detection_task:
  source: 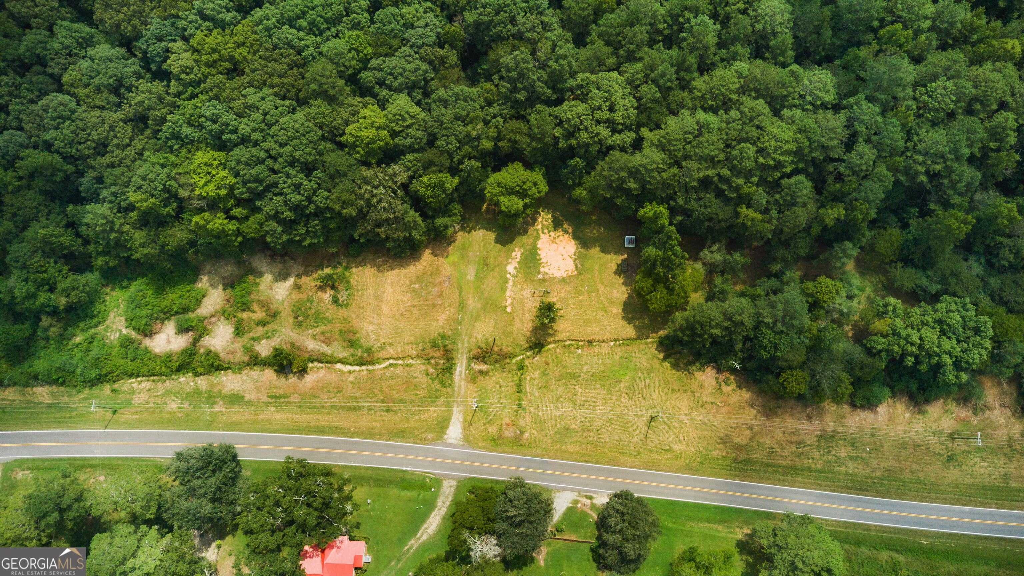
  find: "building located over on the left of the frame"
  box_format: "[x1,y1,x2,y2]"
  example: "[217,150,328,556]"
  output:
[298,531,373,576]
